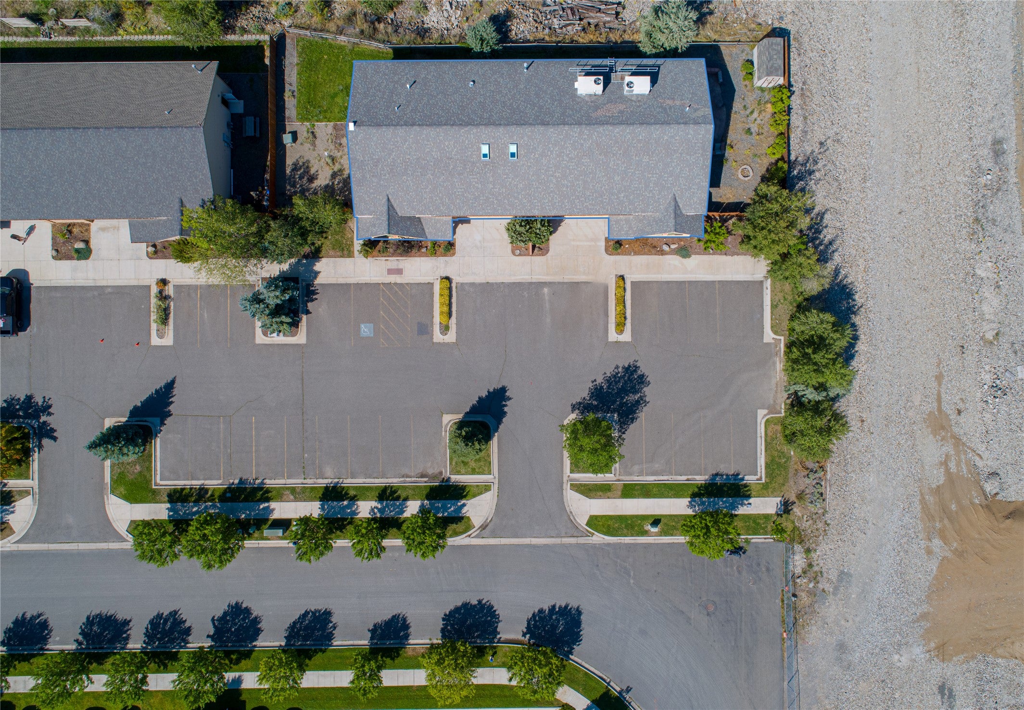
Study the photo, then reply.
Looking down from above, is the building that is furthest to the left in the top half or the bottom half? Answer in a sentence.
It is in the top half that the building that is furthest to the left appears.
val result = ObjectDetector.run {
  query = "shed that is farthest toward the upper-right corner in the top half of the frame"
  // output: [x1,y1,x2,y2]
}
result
[754,29,791,85]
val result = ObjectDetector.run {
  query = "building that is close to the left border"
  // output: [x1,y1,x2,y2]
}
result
[0,60,246,241]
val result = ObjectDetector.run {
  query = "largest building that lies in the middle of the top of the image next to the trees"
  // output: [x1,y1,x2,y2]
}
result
[346,51,714,241]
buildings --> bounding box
[754,29,791,85]
[346,51,714,241]
[0,60,246,241]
